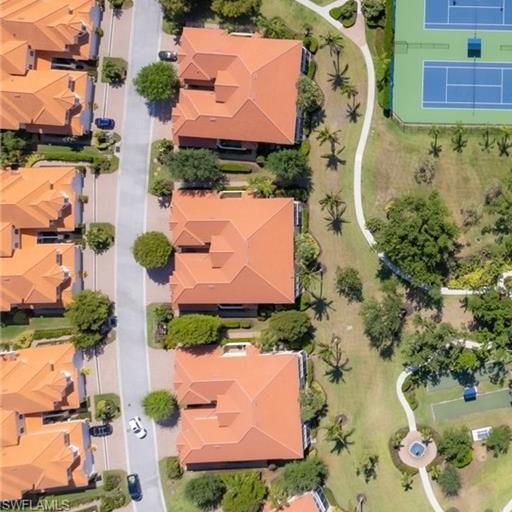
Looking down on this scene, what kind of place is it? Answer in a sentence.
It's a residential area.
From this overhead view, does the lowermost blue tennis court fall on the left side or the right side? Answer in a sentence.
It is on the right.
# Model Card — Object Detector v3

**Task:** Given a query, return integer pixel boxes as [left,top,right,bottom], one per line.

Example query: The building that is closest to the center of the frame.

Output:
[170,191,300,315]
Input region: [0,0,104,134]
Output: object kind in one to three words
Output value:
house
